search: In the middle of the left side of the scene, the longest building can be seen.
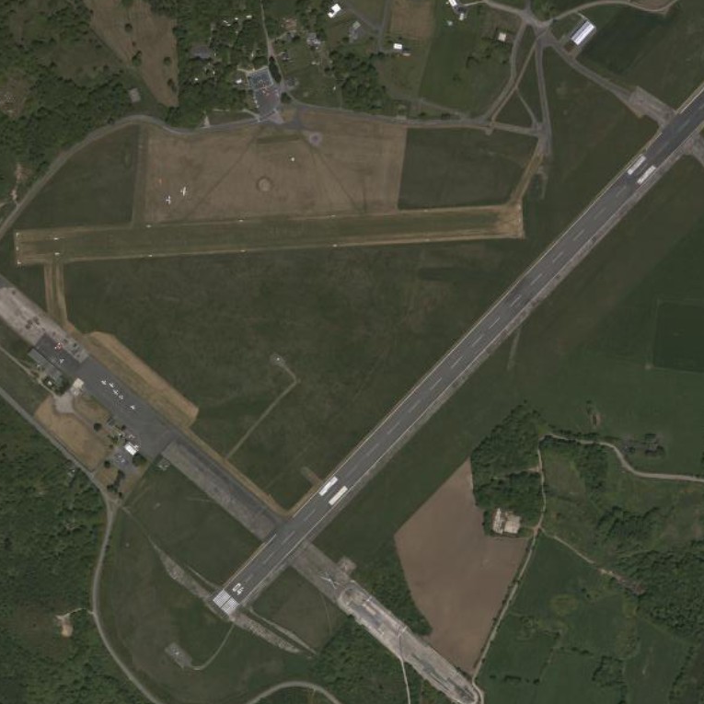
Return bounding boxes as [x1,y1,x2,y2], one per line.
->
[28,349,62,380]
